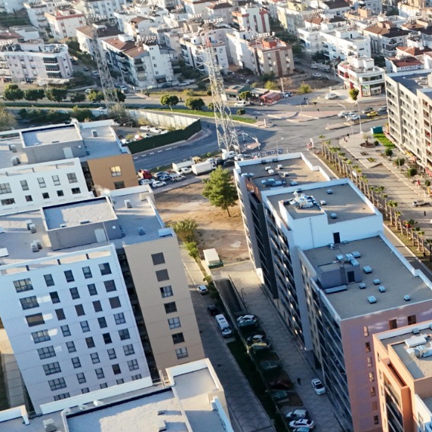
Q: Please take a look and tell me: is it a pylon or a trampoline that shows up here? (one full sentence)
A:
Looking from above, you can make out a pylon.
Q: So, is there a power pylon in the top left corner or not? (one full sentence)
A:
Yes, you'll find a power pylon in the top left corner.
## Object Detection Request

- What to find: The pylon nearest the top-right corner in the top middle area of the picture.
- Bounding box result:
[208,30,251,156]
